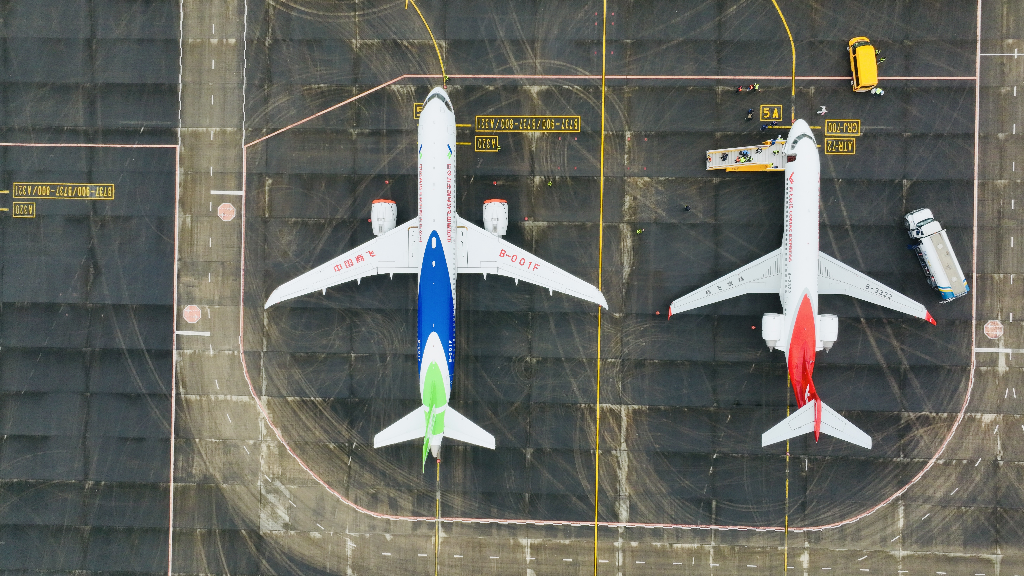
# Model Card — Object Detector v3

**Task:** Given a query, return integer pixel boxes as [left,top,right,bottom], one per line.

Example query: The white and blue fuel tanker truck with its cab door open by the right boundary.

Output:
[904,207,968,303]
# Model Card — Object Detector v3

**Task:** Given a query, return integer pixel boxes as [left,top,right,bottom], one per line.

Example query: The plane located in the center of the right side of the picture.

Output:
[671,120,937,450]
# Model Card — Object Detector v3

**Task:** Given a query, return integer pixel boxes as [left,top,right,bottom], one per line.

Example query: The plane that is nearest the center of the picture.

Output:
[263,87,610,471]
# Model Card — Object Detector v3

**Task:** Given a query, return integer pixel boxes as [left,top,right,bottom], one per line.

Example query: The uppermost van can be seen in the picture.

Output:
[847,37,877,93]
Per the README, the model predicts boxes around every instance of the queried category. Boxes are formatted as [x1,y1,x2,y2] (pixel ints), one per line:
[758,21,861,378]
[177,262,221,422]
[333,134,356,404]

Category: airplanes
[671,120,937,450]
[263,87,610,471]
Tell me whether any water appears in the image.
No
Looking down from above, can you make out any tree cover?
No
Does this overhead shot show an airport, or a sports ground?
airport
